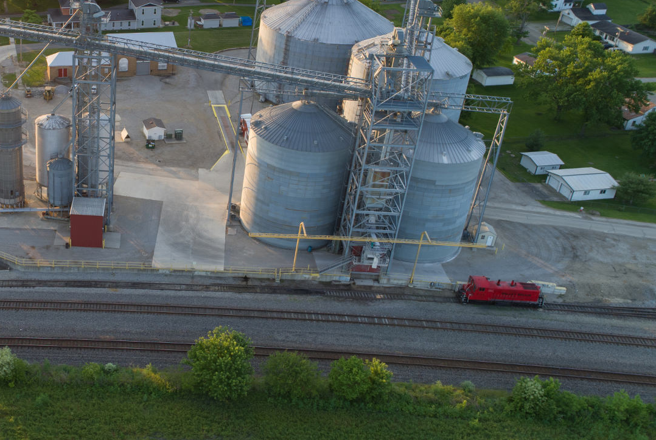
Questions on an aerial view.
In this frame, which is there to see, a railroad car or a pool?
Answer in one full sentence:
It is a railroad car that can be seen here.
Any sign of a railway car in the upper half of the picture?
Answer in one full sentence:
No, I see no railway car in the upper half of the picture.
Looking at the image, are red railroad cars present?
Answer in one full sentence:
Yes, you can see a red railroad car in this photo.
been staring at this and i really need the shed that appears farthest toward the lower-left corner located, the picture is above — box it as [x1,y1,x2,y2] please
[68,194,106,247]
